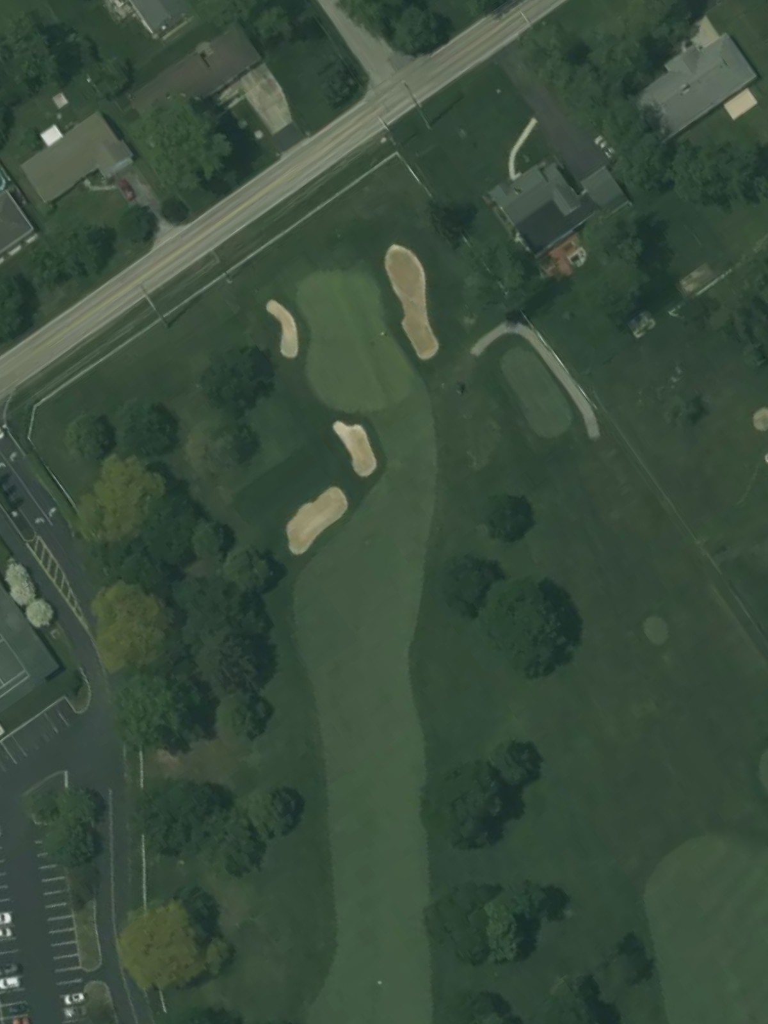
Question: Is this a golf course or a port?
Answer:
golf course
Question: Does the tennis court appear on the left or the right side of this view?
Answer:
left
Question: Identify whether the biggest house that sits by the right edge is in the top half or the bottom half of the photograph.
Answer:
top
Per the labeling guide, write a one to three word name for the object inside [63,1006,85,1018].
vehicle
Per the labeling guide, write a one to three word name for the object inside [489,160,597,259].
house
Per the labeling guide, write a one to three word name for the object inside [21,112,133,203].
house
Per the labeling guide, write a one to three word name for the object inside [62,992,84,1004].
vehicle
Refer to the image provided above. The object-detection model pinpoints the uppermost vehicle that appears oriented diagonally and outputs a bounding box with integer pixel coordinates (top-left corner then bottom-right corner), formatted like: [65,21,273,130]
[595,136,612,156]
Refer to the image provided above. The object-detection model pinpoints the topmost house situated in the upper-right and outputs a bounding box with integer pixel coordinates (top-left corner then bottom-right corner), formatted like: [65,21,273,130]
[635,32,758,136]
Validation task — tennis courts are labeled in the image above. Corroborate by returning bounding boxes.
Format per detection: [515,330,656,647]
[0,591,62,715]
